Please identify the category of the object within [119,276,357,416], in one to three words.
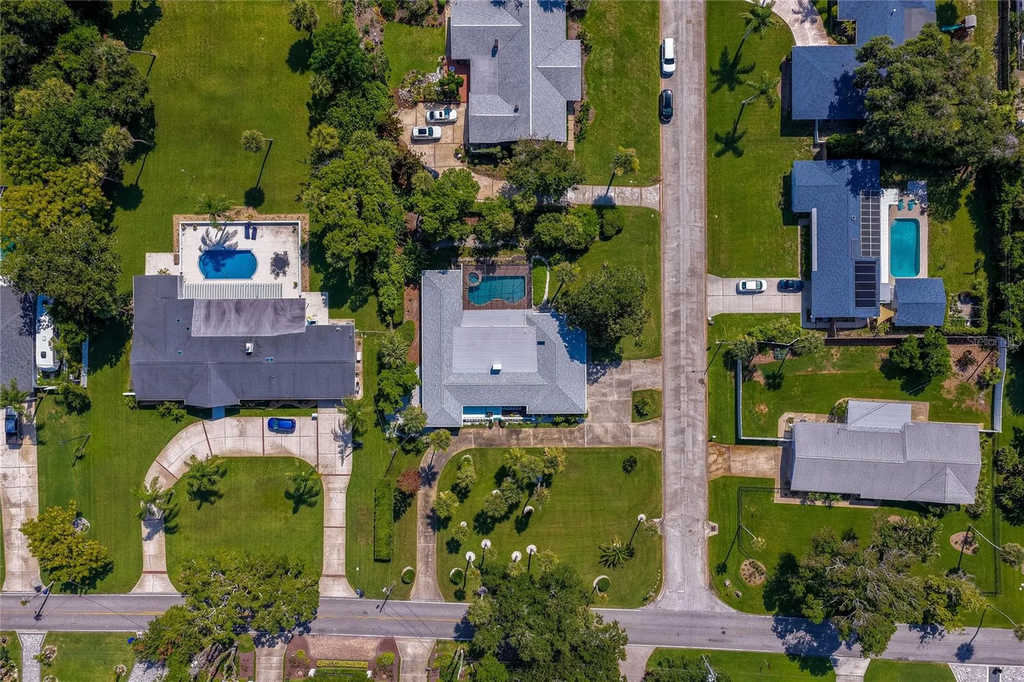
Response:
house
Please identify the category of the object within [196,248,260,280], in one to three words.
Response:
swimming pool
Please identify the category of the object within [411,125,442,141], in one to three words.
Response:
car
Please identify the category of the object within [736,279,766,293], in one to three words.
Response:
car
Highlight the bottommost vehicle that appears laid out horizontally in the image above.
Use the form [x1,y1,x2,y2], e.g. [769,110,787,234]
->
[268,418,297,432]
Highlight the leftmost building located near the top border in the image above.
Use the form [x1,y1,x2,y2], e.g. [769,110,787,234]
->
[451,0,581,146]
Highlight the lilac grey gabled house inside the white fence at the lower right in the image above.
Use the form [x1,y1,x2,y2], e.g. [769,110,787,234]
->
[788,401,981,504]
